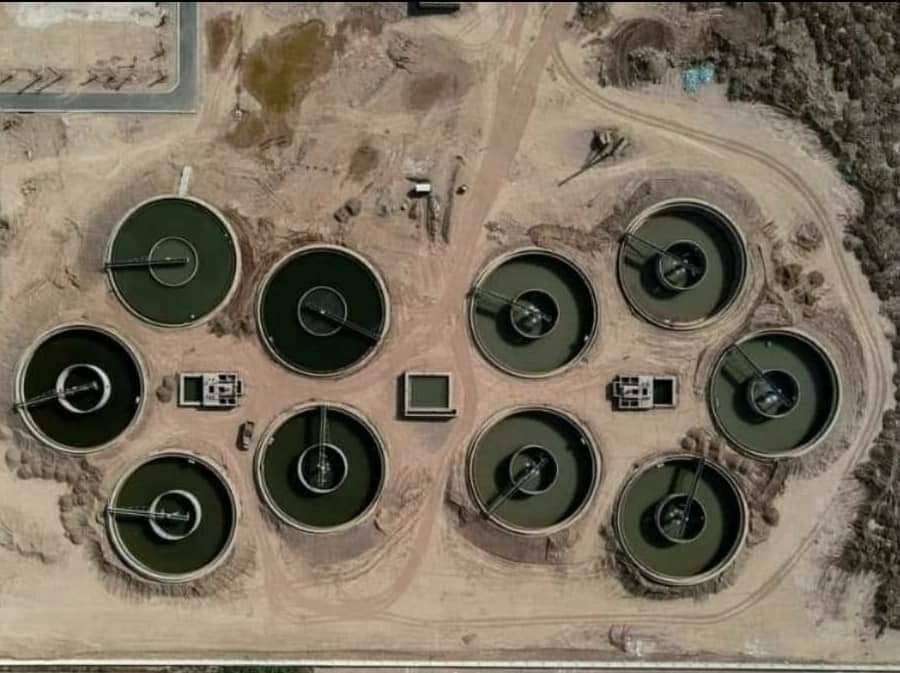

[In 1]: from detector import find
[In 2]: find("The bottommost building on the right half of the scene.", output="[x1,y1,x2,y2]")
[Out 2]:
[613,375,676,408]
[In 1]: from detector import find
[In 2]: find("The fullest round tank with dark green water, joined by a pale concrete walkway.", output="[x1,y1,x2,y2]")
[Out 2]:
[102,195,243,328]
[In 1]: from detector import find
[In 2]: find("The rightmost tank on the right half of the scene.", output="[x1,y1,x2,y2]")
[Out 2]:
[706,328,839,459]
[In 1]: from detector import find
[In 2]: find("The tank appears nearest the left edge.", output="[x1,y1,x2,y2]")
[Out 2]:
[11,323,149,452]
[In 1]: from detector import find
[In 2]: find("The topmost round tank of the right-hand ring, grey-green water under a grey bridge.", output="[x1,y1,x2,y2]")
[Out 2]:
[615,199,747,329]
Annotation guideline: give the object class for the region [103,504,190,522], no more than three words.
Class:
bridge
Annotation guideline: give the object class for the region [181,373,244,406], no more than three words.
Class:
building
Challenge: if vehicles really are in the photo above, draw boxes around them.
[240,420,255,449]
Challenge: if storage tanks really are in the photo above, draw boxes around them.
[706,328,839,459]
[468,404,599,536]
[615,199,747,329]
[256,399,387,532]
[102,195,243,328]
[103,450,240,581]
[258,246,388,376]
[469,248,599,377]
[614,452,747,584]
[11,323,149,452]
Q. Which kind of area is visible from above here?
industrial area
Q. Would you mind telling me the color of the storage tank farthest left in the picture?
black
